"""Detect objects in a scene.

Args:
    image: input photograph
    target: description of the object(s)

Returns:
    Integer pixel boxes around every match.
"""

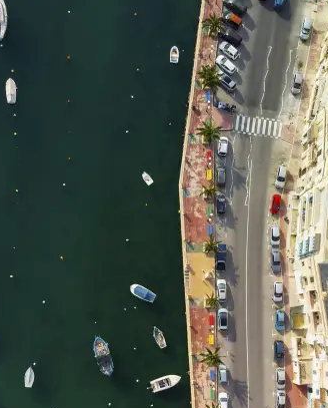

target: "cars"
[223,12,242,29]
[217,166,227,187]
[300,19,312,40]
[218,56,237,74]
[270,194,281,215]
[275,167,286,187]
[218,137,229,156]
[292,74,302,94]
[219,393,228,408]
[272,282,283,302]
[274,341,285,362]
[221,28,242,47]
[270,226,281,246]
[218,280,227,302]
[225,0,246,14]
[275,368,286,388]
[218,309,229,331]
[271,250,281,272]
[217,195,227,214]
[275,391,286,408]
[218,365,228,385]
[219,41,240,60]
[274,311,285,330]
